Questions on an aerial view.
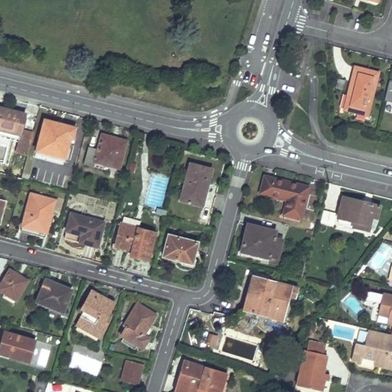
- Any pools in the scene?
Yes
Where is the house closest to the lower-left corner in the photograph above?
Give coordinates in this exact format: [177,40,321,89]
[0,331,37,365]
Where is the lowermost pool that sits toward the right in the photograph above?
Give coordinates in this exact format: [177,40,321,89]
[222,336,258,362]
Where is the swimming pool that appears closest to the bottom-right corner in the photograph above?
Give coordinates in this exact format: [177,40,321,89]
[332,325,356,341]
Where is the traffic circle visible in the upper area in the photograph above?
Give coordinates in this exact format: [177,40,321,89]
[223,104,278,158]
